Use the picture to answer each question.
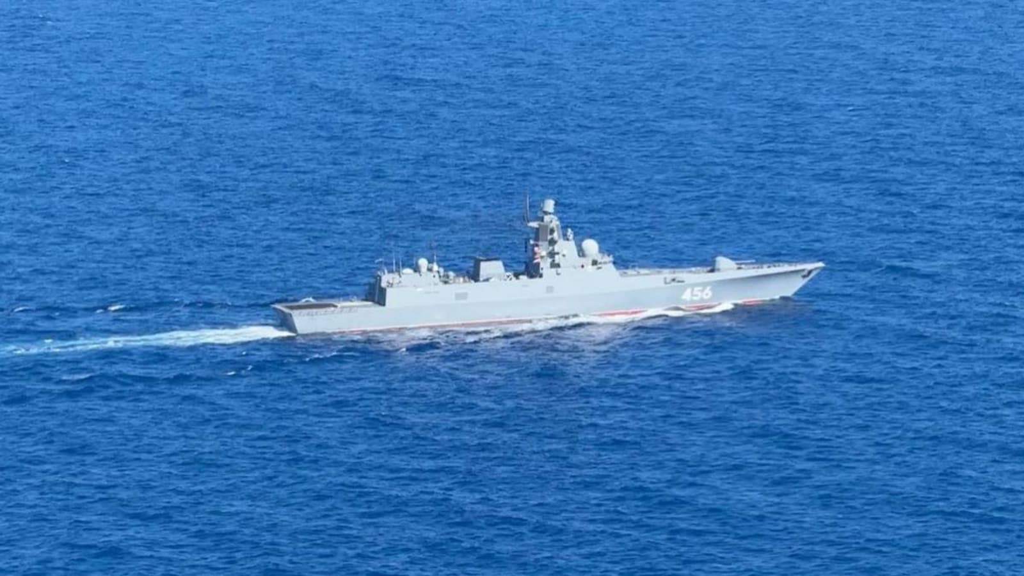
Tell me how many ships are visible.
1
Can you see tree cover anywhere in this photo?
No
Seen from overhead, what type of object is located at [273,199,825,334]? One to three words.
ship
